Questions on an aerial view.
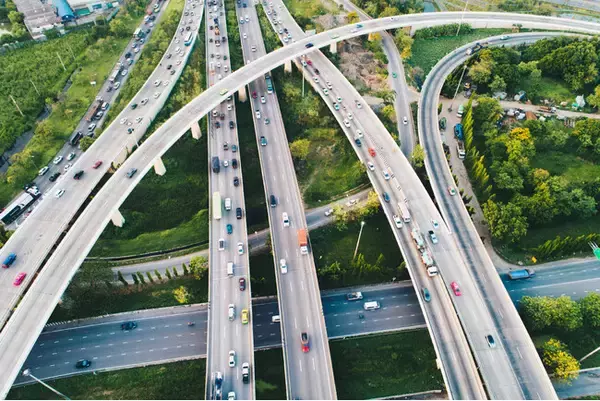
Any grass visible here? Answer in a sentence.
Yes, some grass is visible.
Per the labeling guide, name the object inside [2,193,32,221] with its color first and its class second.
white bus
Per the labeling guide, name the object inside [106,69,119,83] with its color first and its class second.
white vehicle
